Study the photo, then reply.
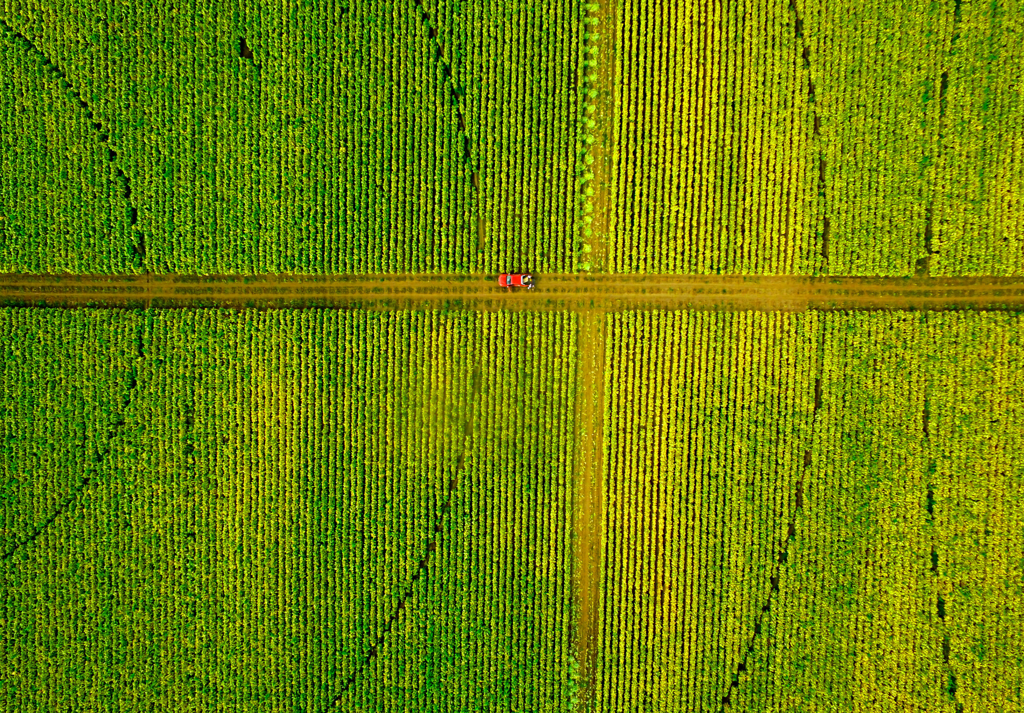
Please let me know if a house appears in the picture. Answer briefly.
No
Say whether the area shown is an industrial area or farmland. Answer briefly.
farmland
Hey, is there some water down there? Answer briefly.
No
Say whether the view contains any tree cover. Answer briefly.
No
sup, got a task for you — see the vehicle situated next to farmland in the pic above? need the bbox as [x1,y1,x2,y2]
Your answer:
[498,273,533,292]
